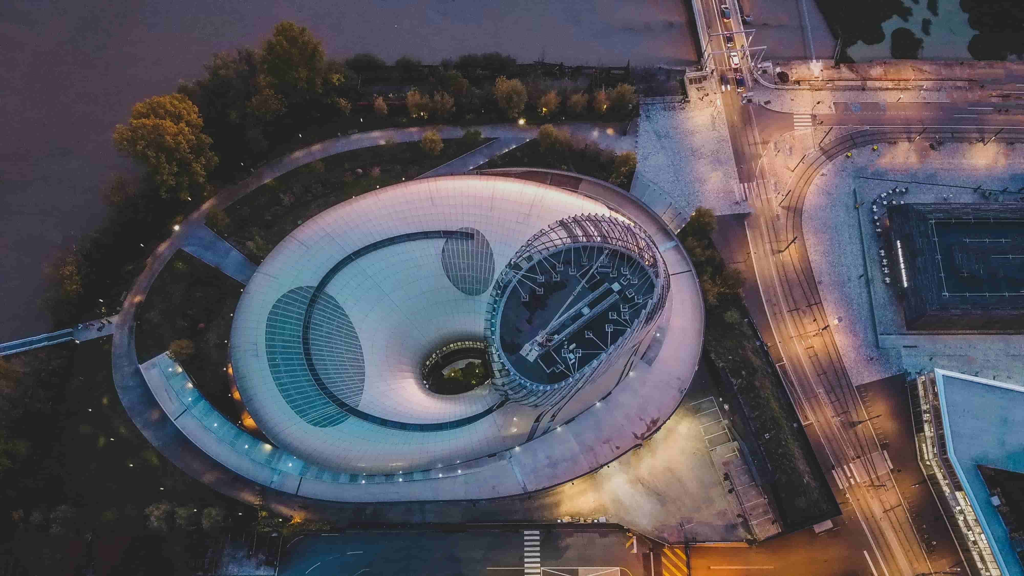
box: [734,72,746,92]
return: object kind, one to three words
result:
vehicle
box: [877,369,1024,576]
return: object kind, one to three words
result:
building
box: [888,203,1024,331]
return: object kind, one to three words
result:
building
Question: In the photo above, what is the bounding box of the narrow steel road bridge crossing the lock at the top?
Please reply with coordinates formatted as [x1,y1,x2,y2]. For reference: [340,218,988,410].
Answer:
[693,0,754,75]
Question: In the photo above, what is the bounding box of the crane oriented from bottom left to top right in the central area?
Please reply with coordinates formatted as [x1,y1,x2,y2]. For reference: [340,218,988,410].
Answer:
[520,248,610,363]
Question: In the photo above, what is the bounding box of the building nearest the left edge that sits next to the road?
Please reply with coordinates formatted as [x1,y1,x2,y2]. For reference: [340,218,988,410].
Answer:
[139,167,705,502]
